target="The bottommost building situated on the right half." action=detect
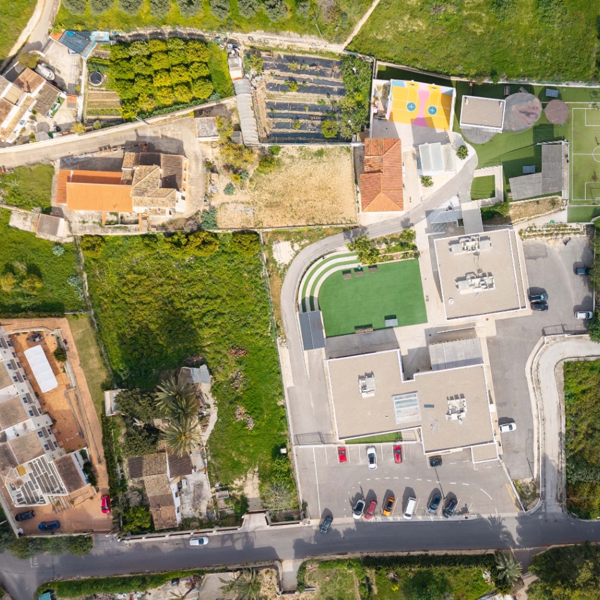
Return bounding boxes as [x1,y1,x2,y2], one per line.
[328,349,499,463]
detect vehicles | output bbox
[403,496,417,521]
[428,456,443,466]
[442,497,458,520]
[363,499,378,521]
[498,423,518,433]
[573,267,591,277]
[337,445,347,464]
[427,493,442,515]
[392,445,403,464]
[38,520,62,531]
[530,302,549,312]
[367,447,378,470]
[100,495,112,514]
[318,513,336,535]
[352,498,367,521]
[529,292,549,303]
[382,495,397,518]
[574,311,594,320]
[189,535,210,547]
